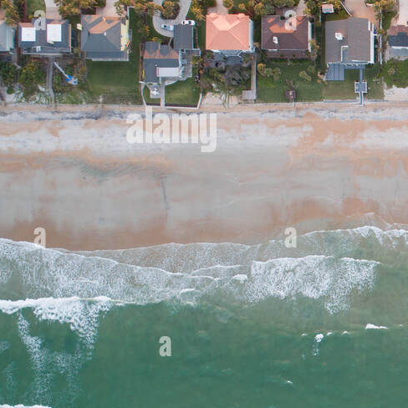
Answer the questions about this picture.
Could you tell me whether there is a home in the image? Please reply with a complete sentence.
Yes, there's a home here.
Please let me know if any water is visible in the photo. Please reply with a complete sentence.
Yes, water shows up in the scene.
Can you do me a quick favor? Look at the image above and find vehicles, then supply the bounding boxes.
[182,19,194,24]
[159,21,172,29]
